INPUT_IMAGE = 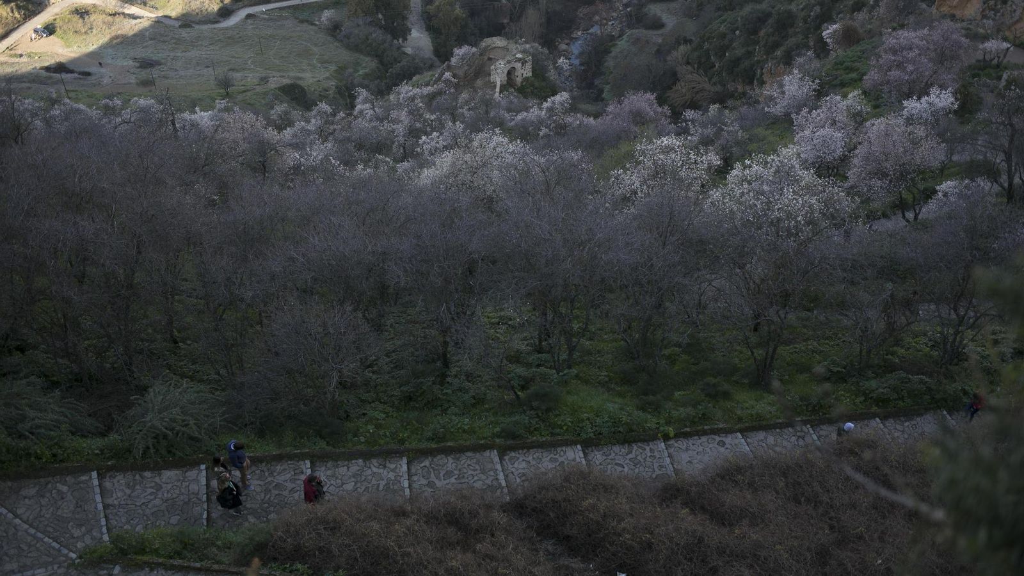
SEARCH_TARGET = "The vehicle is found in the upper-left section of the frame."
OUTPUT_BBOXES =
[34,26,48,38]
